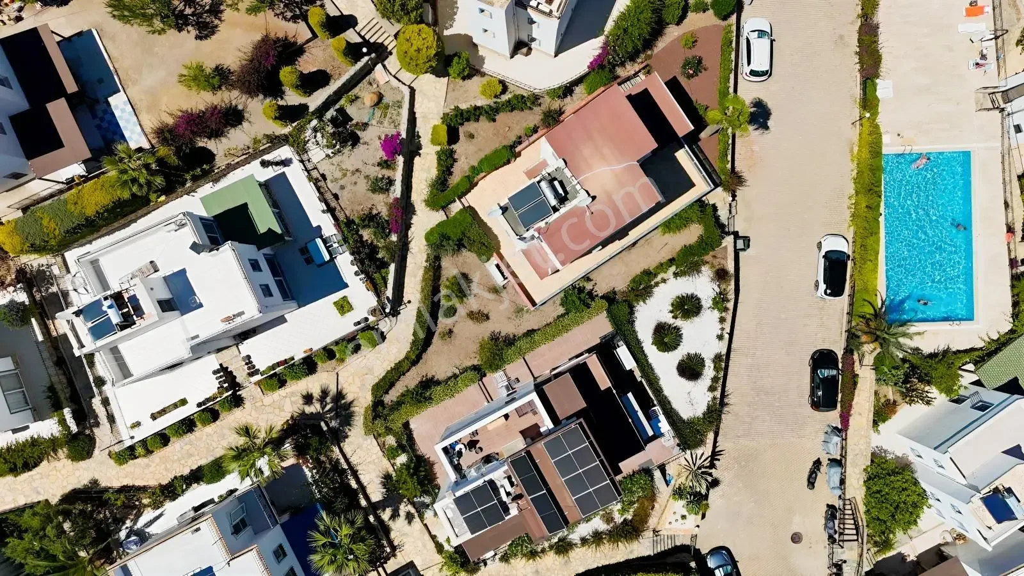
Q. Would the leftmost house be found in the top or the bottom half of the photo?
bottom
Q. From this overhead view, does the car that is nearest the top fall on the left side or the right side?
right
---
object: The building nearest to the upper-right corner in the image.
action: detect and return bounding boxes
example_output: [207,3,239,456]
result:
[966,75,1024,213]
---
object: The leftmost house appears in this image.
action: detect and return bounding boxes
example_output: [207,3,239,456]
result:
[0,369,40,439]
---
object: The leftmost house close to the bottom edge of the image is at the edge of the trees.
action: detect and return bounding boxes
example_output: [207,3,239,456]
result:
[84,473,315,576]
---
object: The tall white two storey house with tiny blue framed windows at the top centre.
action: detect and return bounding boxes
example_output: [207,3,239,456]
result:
[466,0,583,57]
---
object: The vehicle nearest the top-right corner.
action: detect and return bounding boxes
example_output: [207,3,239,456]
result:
[739,19,775,83]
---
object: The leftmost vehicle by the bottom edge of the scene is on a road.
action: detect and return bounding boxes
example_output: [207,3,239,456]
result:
[705,542,742,576]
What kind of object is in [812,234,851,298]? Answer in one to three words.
car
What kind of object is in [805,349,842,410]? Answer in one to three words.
car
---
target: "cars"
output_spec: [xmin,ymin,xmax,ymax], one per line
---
[812,234,851,298]
[705,542,742,576]
[805,349,842,410]
[739,19,775,83]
